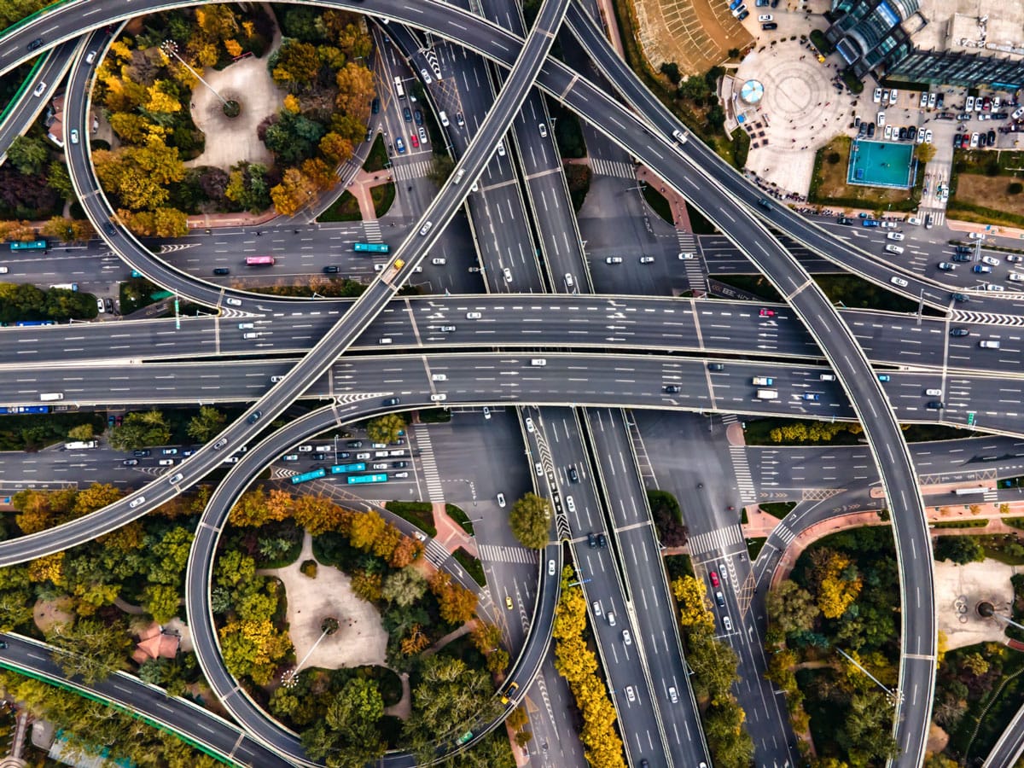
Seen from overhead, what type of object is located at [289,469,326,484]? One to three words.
vehicle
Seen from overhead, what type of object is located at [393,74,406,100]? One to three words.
vehicle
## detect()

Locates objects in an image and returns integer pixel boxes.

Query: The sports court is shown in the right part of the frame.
[847,137,918,189]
